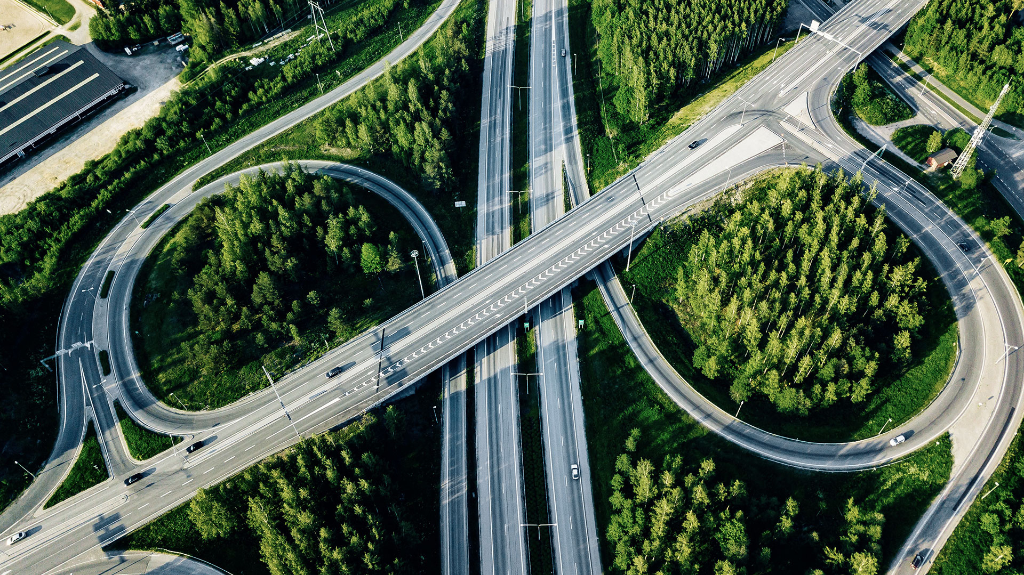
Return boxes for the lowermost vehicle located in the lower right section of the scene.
[911,551,926,569]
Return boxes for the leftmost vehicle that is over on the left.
[5,530,24,544]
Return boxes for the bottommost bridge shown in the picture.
[369,169,655,400]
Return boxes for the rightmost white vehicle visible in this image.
[889,433,907,445]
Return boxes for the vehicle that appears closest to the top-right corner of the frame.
[957,239,971,251]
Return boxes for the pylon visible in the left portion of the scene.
[307,0,332,49]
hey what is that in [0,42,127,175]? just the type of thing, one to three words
building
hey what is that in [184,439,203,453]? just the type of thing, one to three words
car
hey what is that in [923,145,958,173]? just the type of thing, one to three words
shed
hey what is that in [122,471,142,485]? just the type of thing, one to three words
car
